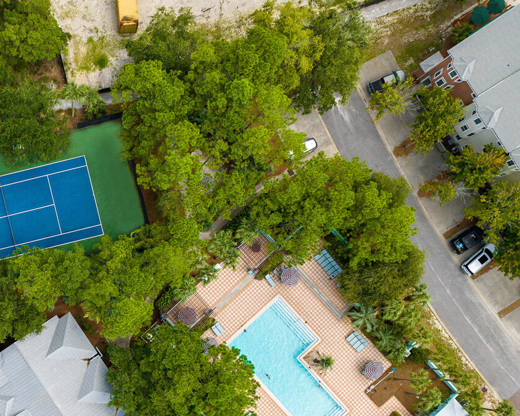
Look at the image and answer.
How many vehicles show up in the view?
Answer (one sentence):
In total, 4 vehicles can be seen.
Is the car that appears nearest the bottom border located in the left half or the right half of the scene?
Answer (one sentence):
The car that appears nearest the bottom border appears in the right half of the scene.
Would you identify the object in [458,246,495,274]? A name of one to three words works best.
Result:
car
